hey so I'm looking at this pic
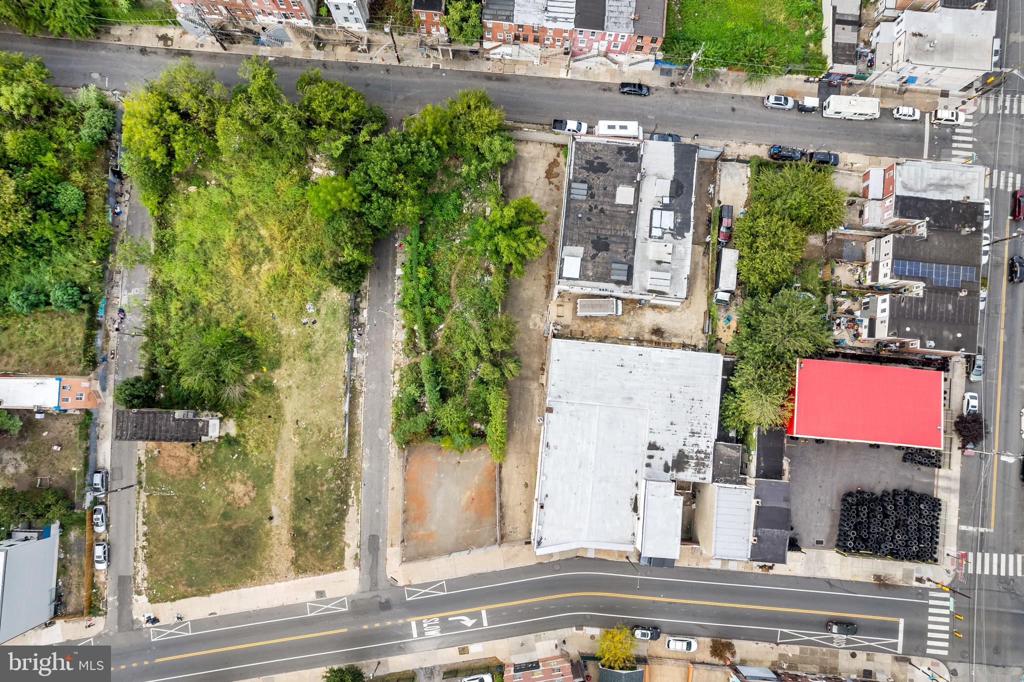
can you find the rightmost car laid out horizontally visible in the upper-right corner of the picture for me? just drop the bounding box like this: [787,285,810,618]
[929,110,962,126]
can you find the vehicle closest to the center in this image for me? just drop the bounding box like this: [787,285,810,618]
[573,298,619,316]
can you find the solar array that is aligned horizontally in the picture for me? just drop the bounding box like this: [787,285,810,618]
[893,260,976,287]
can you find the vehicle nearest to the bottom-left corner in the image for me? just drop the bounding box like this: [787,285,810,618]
[92,540,112,570]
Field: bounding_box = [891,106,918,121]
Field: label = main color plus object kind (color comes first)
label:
white car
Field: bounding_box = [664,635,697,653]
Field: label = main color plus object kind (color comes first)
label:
white car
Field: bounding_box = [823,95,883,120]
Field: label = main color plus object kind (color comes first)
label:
white camper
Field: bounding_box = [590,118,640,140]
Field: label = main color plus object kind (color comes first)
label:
white truck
